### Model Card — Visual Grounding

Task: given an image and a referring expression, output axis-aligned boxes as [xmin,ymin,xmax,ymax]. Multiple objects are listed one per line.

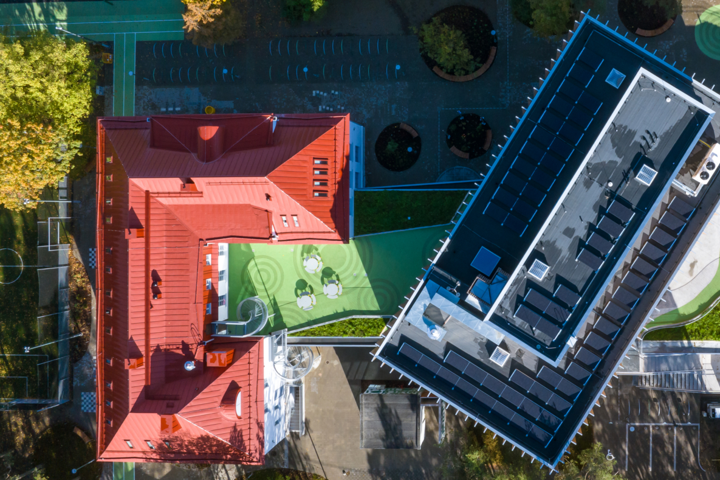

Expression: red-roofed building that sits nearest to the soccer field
[96,115,365,463]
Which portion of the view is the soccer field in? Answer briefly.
left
